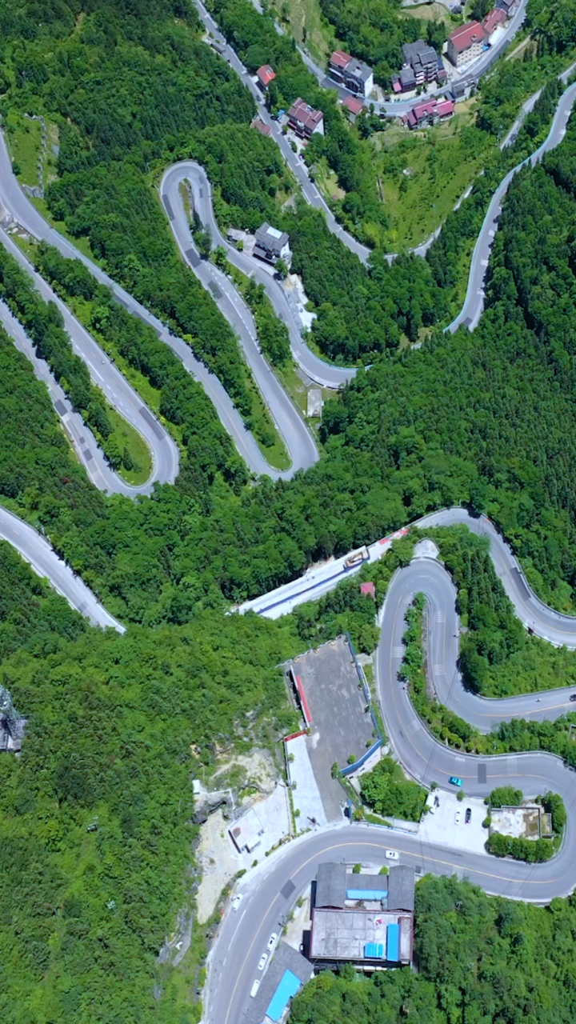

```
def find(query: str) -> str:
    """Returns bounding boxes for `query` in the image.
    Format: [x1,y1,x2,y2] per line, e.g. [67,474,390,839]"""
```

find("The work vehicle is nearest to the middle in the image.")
[343,550,371,568]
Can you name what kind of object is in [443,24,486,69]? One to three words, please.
house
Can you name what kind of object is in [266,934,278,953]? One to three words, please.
vehicle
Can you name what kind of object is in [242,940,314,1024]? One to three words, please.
building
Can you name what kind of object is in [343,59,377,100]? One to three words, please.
house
